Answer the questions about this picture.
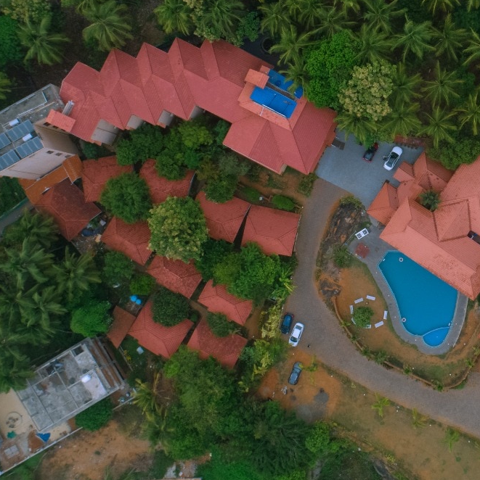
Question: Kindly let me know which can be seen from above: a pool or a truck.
pool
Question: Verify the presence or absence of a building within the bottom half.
Yes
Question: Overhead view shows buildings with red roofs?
Yes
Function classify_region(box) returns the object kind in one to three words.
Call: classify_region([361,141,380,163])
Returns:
car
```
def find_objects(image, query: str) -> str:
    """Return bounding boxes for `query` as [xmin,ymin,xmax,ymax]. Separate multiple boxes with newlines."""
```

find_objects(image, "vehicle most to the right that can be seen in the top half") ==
[384,145,402,170]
